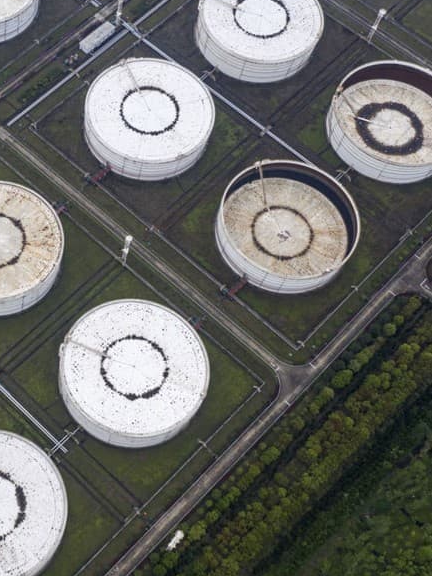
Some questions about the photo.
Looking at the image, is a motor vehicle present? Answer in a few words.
No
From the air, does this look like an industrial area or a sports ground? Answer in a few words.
industrial area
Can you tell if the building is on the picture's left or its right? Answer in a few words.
left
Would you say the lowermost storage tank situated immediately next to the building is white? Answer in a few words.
Yes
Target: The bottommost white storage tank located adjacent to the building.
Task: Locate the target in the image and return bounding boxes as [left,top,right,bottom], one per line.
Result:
[80,56,216,182]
